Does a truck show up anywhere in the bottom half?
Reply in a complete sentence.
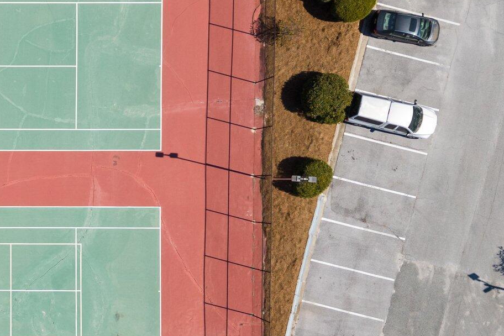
No, no truck can be made out in the bottom half.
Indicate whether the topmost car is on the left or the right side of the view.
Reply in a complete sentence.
You can find the topmost car on the right side of the picture.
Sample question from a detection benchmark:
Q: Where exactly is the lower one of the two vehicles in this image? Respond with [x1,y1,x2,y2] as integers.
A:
[342,91,435,139]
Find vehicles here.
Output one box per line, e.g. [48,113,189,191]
[342,91,435,139]
[368,8,440,48]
